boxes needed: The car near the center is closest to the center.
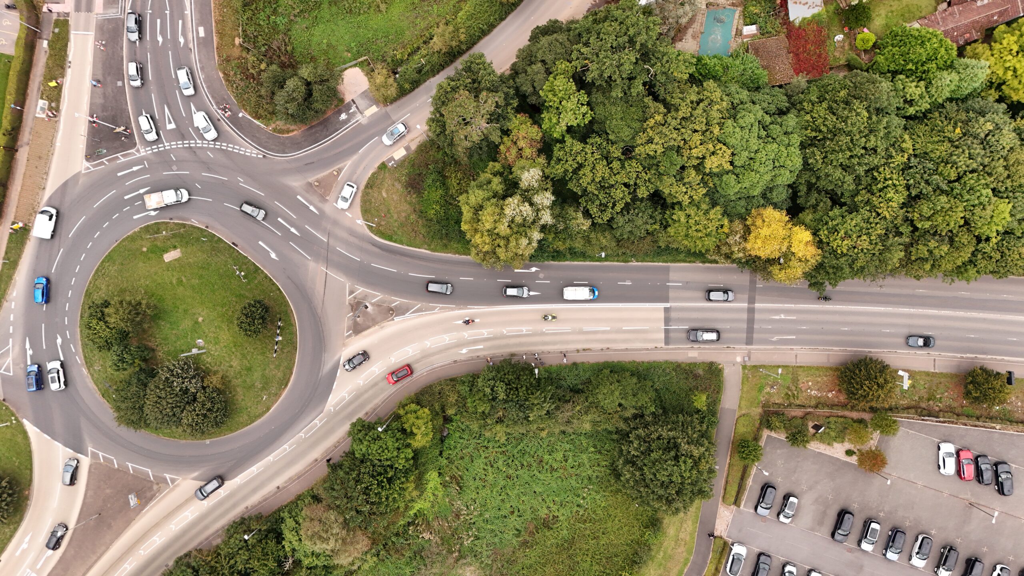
[503,285,530,300]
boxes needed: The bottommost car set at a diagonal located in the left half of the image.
[43,520,71,553]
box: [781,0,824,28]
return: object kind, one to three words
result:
shed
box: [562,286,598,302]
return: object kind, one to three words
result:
vehicle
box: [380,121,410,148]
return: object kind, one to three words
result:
car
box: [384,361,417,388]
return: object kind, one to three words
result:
car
